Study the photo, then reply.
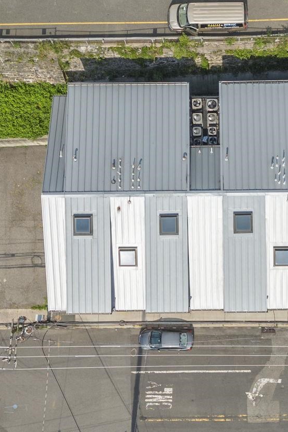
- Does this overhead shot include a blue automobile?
No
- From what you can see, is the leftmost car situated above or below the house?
below it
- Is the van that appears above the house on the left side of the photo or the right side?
right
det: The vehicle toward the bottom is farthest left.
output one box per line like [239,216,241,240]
[138,325,195,353]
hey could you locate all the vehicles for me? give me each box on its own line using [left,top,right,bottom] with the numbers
[170,0,246,40]
[138,325,195,353]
